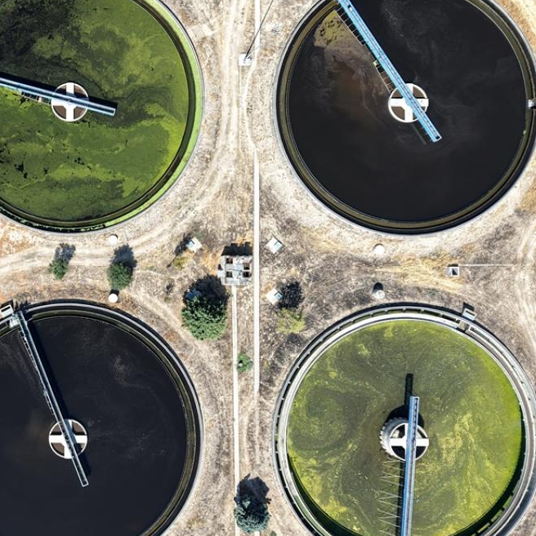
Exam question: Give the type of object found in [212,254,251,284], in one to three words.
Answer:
building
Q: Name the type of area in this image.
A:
industrial area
